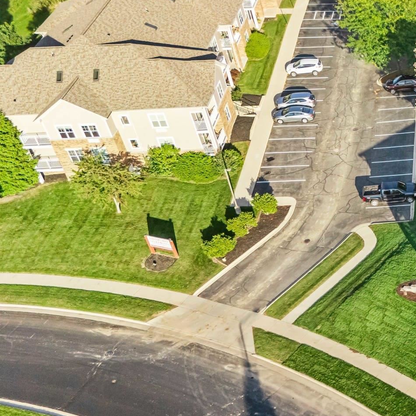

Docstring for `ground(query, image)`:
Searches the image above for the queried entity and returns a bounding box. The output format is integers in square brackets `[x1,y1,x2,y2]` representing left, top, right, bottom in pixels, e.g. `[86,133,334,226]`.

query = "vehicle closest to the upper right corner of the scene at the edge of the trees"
[384,73,416,93]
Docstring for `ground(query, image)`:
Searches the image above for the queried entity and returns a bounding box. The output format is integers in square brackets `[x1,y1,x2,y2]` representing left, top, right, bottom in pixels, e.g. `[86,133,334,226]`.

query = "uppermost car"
[283,55,325,75]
